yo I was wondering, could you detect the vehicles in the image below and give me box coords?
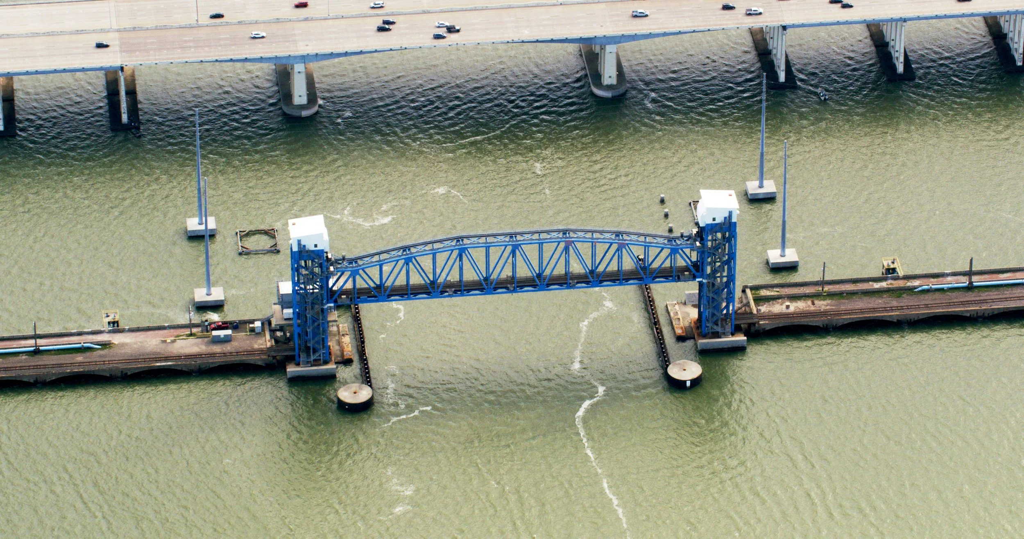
[745,7,762,15]
[839,1,853,7]
[446,24,460,32]
[720,2,735,9]
[381,17,396,24]
[432,32,446,39]
[293,0,307,7]
[95,41,109,48]
[376,24,391,31]
[631,9,648,16]
[209,12,224,18]
[434,20,449,27]
[369,1,384,8]
[250,31,265,38]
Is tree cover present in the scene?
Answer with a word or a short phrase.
No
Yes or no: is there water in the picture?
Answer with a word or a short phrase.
Yes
